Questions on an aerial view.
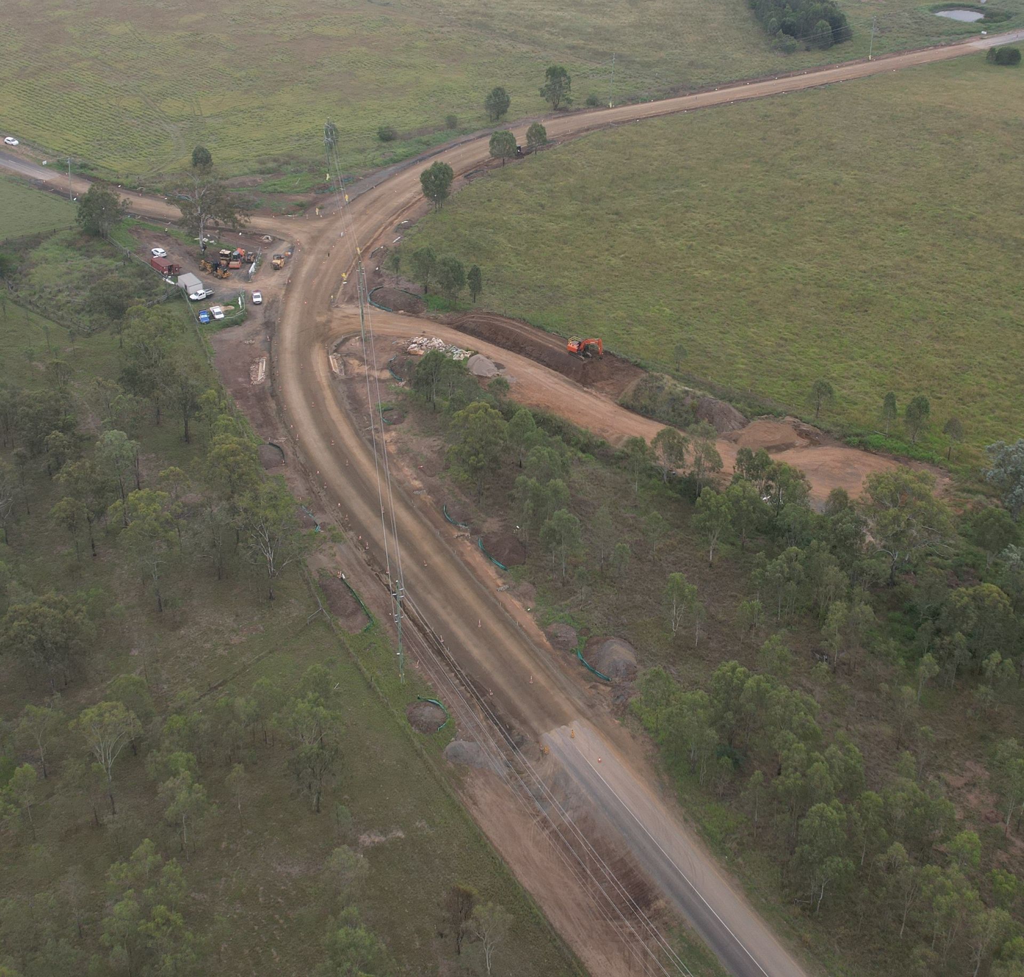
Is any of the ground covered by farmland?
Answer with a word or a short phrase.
Yes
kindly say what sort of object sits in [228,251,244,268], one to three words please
work vehicle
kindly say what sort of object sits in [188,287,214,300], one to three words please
vehicle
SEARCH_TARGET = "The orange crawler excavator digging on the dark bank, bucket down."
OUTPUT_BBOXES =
[569,338,604,366]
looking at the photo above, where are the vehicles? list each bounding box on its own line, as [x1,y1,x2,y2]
[149,247,168,257]
[4,137,19,146]
[228,251,244,268]
[209,304,225,319]
[188,287,214,300]
[218,248,229,265]
[251,289,262,304]
[569,338,604,366]
[270,250,285,267]
[198,307,209,323]
[245,251,256,265]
